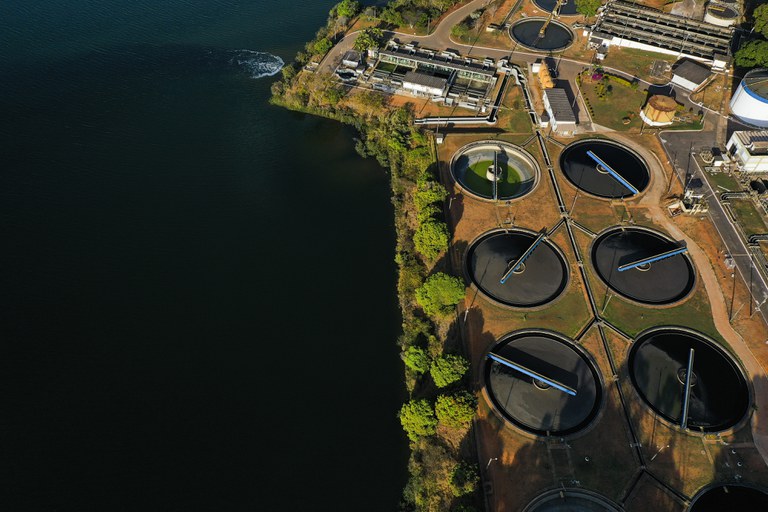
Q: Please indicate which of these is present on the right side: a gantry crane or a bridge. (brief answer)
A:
bridge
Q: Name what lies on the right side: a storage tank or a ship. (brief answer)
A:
storage tank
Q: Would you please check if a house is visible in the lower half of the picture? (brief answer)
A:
No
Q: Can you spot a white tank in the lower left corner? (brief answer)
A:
No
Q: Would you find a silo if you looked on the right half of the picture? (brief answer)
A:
Yes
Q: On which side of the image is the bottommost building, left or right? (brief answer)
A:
right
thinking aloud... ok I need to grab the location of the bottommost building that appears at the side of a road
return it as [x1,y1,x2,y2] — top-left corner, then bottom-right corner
[676,187,709,217]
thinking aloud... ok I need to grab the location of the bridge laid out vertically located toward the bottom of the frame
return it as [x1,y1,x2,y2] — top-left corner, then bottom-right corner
[677,348,695,431]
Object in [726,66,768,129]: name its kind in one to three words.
storage tank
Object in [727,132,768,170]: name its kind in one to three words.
building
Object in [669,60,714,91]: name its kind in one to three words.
house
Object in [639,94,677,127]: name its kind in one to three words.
silo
